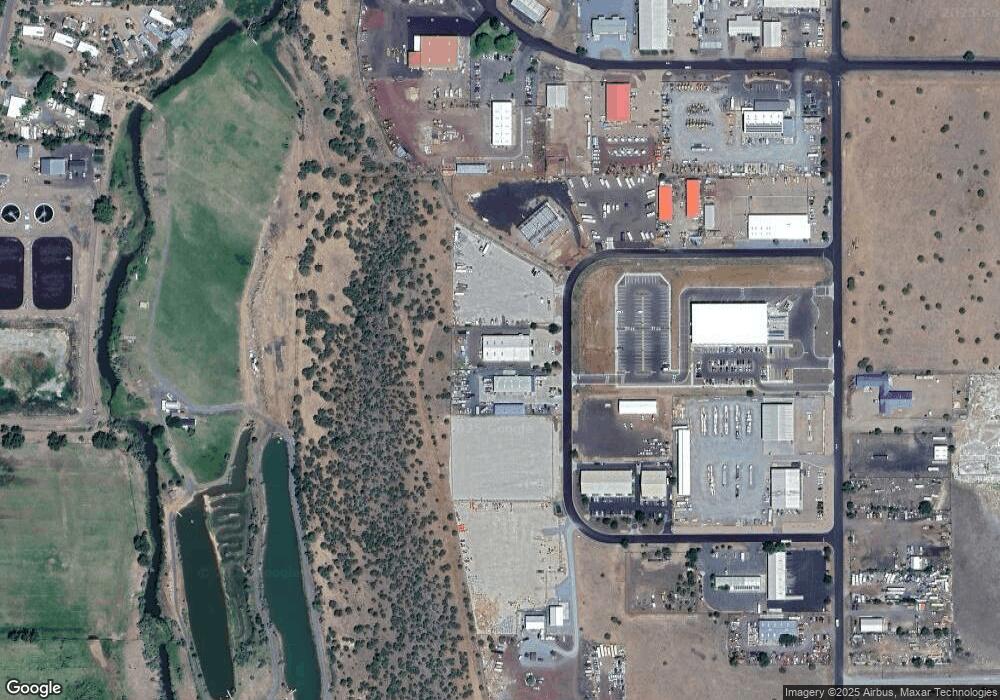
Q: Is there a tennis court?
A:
No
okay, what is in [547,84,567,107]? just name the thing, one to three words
building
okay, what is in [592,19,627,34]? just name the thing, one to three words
building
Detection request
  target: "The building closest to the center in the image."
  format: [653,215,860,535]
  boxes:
[482,335,529,360]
